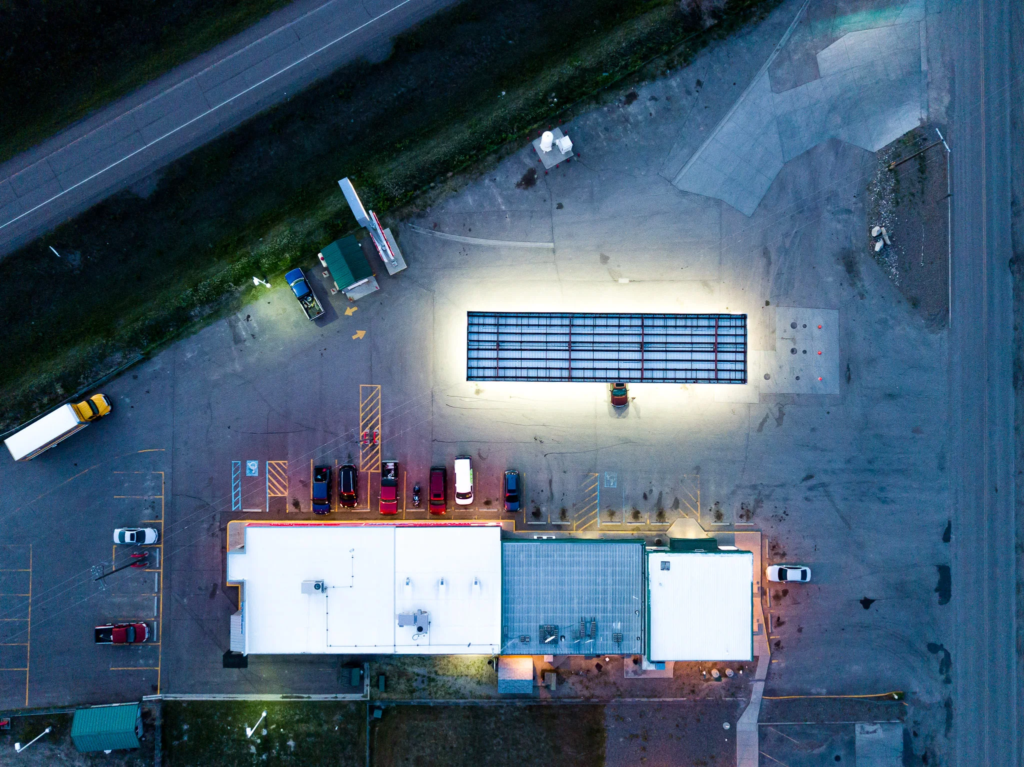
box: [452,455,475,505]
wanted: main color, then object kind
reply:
white vehicle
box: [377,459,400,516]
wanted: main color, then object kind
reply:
red truck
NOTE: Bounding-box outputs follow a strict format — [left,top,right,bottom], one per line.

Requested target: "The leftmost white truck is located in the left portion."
[5,387,124,459]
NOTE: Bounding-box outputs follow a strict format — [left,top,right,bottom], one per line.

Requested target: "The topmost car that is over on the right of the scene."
[608,385,630,408]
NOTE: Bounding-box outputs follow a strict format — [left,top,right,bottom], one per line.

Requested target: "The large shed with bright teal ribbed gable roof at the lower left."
[71,699,153,752]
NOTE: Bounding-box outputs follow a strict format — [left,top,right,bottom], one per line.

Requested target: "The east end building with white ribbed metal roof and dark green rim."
[644,537,753,662]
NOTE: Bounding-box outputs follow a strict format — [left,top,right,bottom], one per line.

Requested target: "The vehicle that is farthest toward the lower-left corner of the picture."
[94,622,152,646]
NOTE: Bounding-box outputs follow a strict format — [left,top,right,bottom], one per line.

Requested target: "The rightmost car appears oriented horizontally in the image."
[765,564,811,585]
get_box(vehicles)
[608,385,630,408]
[113,526,160,547]
[5,387,124,459]
[337,463,359,509]
[452,455,475,505]
[286,268,326,322]
[765,564,811,585]
[310,464,333,516]
[427,467,449,514]
[94,622,152,646]
[377,459,400,516]
[413,484,420,504]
